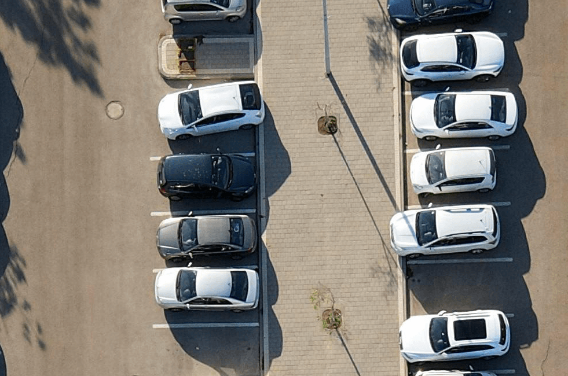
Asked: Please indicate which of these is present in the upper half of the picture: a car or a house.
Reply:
car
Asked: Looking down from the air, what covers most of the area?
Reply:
paved ground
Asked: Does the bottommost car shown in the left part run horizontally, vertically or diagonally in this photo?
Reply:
horizontally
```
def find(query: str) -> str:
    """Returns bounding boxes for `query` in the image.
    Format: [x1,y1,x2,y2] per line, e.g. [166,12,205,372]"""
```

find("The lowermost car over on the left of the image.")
[155,260,258,312]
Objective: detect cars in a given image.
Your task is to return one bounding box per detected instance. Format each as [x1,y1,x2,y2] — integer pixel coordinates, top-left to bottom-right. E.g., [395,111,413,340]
[400,24,504,85]
[386,0,496,29]
[157,146,257,200]
[389,199,500,257]
[409,81,519,139]
[410,141,496,196]
[155,260,258,312]
[161,0,247,24]
[399,305,510,361]
[157,208,258,262]
[158,80,264,140]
